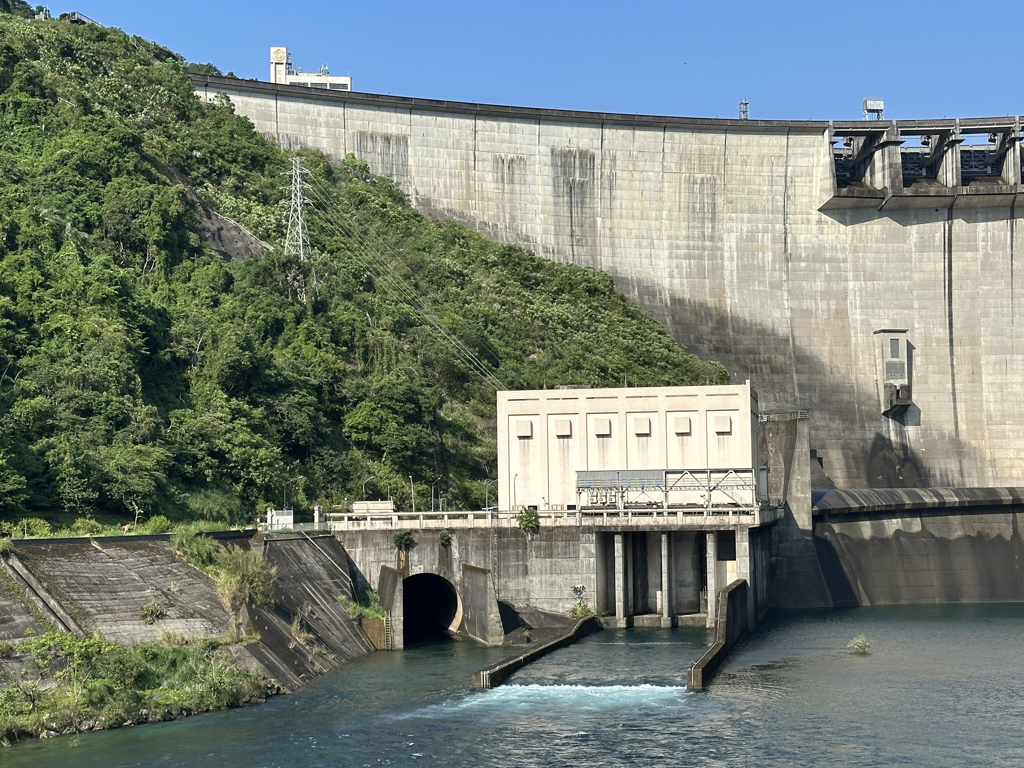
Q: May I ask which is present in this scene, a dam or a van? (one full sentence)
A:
I can see a dam in this picture.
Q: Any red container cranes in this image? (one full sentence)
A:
No, no red container crane can be seen from above.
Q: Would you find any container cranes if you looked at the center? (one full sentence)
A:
No, no container crane can be made out at the center.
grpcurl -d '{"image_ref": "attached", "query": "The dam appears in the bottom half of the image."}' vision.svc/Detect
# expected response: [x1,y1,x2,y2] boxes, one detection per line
[811,486,1024,608]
